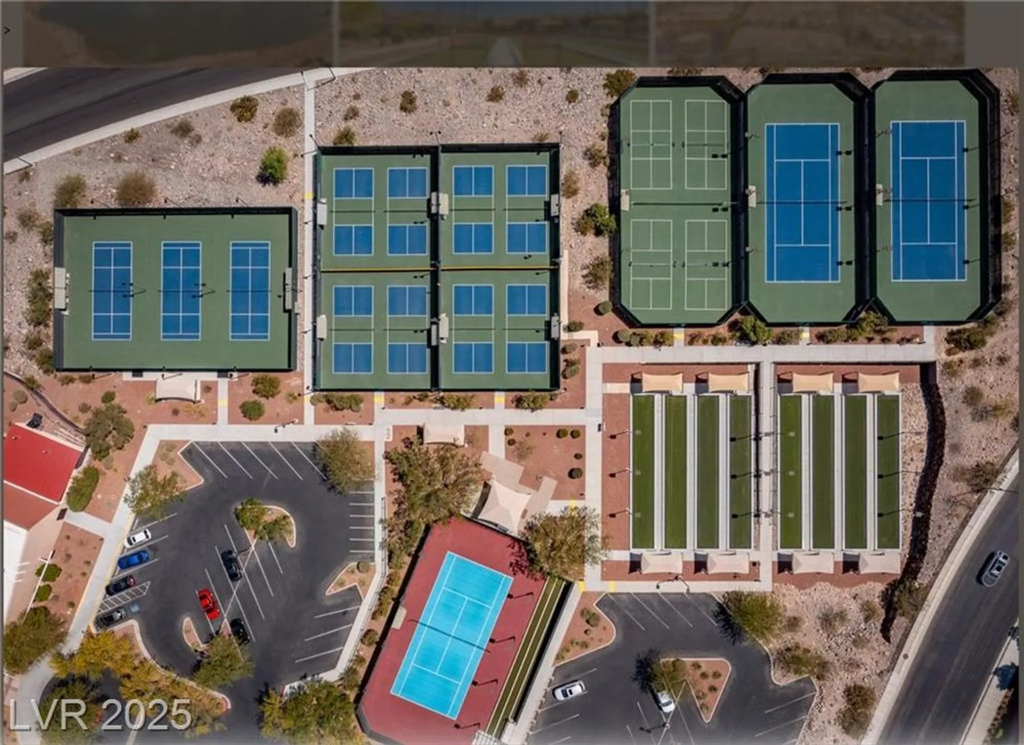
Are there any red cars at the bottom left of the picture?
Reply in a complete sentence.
Yes, looking at the bottom left of the picture, one can make out a red car.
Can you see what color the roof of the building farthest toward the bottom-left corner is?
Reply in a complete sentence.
The roof over the building farthest toward the bottom-left corner appears red.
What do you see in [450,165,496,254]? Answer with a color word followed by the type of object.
blue sports court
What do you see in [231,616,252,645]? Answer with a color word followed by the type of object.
black car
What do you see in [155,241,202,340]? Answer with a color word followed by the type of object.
blue tennis court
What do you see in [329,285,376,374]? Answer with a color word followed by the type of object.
blue sports court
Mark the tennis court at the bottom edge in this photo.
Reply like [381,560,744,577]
[361,517,573,745]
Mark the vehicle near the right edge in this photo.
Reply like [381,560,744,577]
[980,550,1009,586]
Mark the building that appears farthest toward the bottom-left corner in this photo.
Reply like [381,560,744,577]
[0,421,91,639]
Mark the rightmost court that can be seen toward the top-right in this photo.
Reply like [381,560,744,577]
[873,77,989,326]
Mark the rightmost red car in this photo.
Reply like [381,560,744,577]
[199,588,220,620]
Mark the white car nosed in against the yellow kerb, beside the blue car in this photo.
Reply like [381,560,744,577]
[123,527,155,549]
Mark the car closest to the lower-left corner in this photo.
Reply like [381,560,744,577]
[95,607,129,630]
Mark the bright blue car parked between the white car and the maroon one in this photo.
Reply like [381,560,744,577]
[118,548,152,570]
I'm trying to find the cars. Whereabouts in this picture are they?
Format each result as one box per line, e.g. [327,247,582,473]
[118,548,152,570]
[980,550,1009,586]
[199,588,220,620]
[123,527,155,549]
[231,616,252,645]
[654,685,677,717]
[104,574,138,596]
[221,548,243,581]
[95,607,129,630]
[553,680,586,702]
